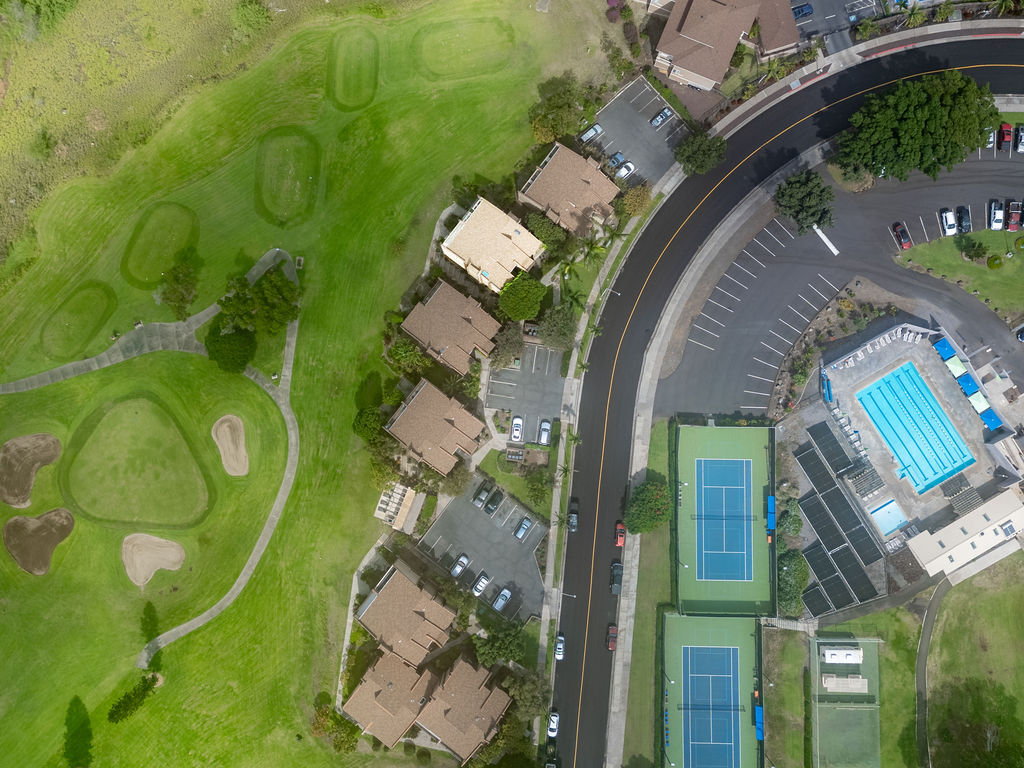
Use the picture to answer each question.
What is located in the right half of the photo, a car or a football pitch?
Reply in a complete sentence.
Visible in the right half of the photo is a car.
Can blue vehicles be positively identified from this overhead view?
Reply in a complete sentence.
Yes, this view includes a blue vehicle.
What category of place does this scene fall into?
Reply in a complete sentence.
The picture captures a golf course.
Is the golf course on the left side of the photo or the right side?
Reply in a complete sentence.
The golf course is on the left side of the image.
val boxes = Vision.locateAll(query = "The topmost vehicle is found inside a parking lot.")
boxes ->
[795,4,815,20]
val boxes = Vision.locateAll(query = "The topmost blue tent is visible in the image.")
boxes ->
[932,337,957,361]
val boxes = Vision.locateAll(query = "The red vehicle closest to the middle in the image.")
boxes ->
[614,523,626,548]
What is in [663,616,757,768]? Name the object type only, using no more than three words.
tennis court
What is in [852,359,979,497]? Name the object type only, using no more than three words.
swimming pool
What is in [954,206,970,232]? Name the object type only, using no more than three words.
car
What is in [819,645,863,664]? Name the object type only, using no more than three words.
shed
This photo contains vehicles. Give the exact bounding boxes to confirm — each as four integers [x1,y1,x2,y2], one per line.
[606,151,627,170]
[545,736,556,761]
[567,509,579,534]
[471,572,492,593]
[1014,325,1024,347]
[609,563,622,593]
[547,711,558,736]
[1005,202,1022,231]
[1019,202,1024,227]
[795,4,815,20]
[511,416,522,441]
[939,210,956,236]
[450,553,470,575]
[606,624,618,649]
[893,224,910,249]
[987,201,1003,230]
[999,124,1013,153]
[484,489,505,513]
[539,419,551,444]
[473,480,496,507]
[614,159,636,179]
[512,515,534,541]
[954,206,970,232]
[614,523,626,548]
[649,109,670,129]
[579,122,604,145]
[492,586,512,613]
[554,633,565,657]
